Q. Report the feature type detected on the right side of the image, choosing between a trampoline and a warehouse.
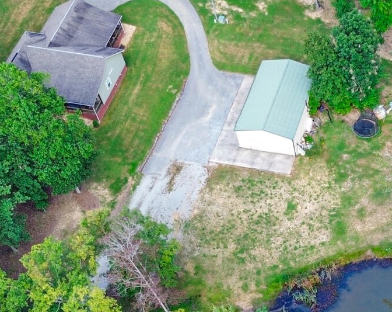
trampoline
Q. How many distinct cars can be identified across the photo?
0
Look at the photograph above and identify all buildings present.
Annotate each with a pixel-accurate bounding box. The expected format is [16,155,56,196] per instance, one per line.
[233,57,321,154]
[2,0,141,122]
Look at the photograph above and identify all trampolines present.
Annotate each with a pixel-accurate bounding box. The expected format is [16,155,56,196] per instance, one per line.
[352,105,380,138]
